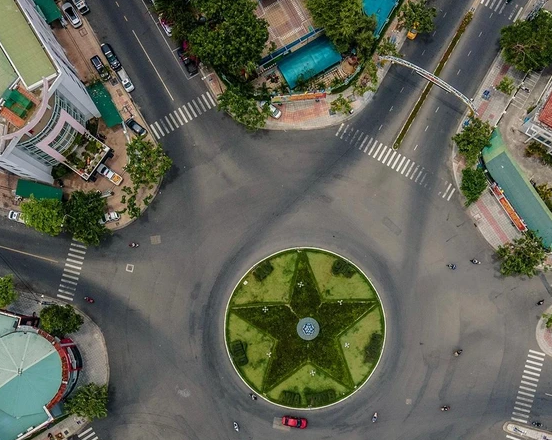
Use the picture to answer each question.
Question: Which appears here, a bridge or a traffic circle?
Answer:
traffic circle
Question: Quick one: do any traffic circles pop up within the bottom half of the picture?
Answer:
Yes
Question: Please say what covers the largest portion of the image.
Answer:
paved ground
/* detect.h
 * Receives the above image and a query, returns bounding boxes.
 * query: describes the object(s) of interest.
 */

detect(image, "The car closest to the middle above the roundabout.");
[266,102,283,120]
